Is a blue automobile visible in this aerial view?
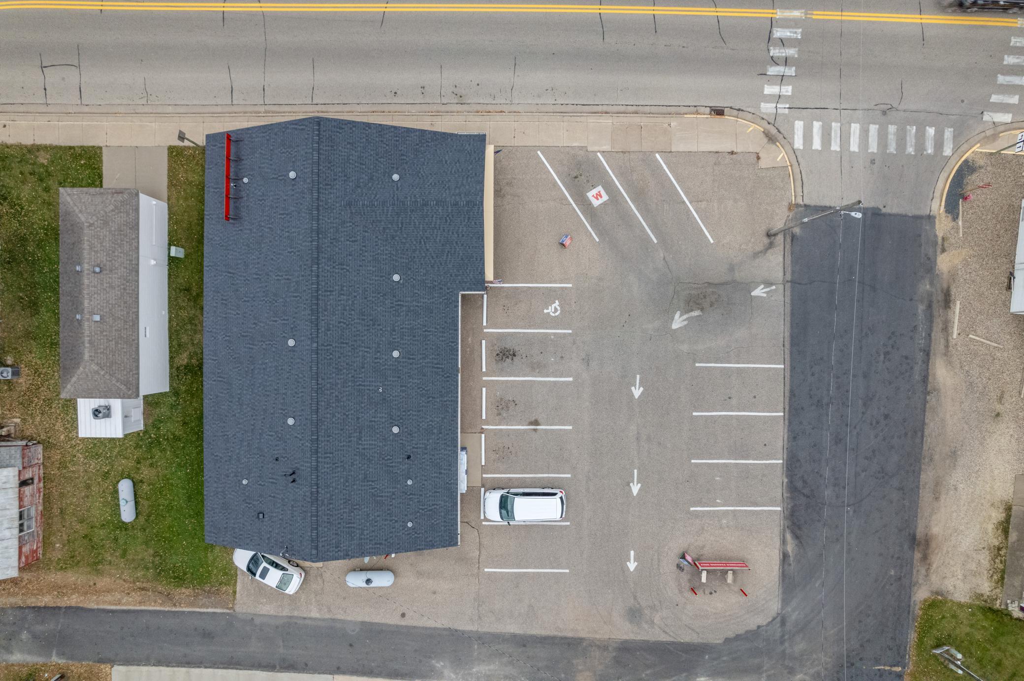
No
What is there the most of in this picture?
paved ground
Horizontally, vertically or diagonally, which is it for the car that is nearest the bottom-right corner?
horizontally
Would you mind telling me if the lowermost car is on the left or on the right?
left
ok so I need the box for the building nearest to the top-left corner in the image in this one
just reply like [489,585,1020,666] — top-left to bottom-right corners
[58,187,168,399]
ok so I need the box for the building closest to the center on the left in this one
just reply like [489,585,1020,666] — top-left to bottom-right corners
[205,115,486,562]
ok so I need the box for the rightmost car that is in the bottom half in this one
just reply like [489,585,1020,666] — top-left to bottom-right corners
[484,486,566,525]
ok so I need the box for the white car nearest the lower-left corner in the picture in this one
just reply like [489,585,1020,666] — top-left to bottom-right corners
[235,550,306,599]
